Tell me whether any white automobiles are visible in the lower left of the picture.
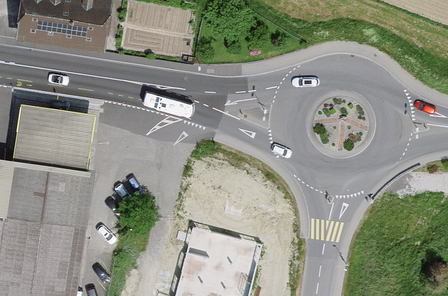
Yes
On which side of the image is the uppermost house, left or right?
left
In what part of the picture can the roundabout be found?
right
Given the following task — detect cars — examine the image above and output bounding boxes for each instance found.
[87,286,98,296]
[128,174,144,193]
[50,74,70,85]
[114,180,131,199]
[104,194,120,213]
[414,101,436,114]
[94,262,110,282]
[294,76,320,88]
[273,144,292,157]
[98,224,116,242]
